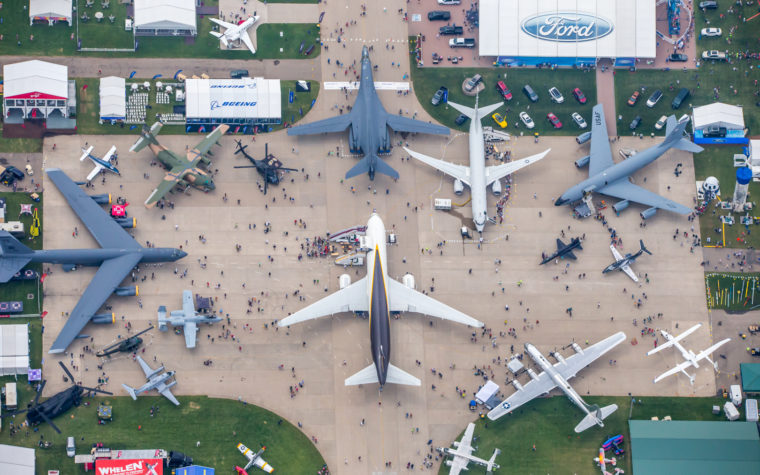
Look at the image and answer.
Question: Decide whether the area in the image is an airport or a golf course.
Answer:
airport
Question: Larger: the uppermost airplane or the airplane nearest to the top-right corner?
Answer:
the airplane nearest to the top-right corner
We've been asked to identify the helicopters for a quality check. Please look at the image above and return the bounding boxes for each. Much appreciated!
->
[93,327,152,357]
[0,361,113,431]
[232,133,298,192]
[30,209,39,238]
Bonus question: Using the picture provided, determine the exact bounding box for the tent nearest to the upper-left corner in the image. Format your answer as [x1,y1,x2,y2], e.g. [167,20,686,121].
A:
[27,0,75,26]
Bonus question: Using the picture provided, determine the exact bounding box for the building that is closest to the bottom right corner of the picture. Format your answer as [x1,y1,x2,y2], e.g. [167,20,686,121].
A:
[627,419,760,475]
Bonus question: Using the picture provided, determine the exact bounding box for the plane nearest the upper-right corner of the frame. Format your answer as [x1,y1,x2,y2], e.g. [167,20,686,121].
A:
[557,96,707,215]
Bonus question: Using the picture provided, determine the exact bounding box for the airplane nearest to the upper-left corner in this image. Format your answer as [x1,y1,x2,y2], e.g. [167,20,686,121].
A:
[80,146,122,181]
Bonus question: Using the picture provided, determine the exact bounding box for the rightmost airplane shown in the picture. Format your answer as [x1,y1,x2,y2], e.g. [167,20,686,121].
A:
[646,324,734,387]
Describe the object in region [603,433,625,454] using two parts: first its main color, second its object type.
blue airplane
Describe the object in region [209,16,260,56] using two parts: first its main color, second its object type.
white airplane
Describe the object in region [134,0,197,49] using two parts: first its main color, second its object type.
white tent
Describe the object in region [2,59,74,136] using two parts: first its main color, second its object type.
white tent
